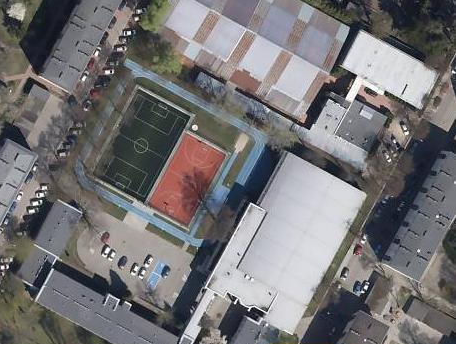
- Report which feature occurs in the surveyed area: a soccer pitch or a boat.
soccer pitch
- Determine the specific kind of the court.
basketball court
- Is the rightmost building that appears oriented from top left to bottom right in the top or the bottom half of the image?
bottom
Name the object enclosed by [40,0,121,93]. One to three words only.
building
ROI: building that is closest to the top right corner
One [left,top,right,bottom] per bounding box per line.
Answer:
[342,31,439,109]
